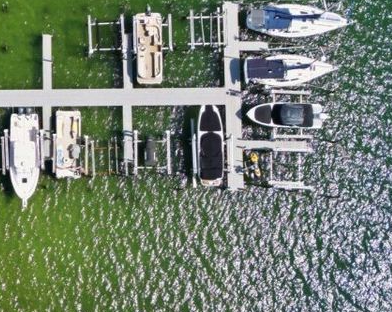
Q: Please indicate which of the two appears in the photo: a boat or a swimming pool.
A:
boat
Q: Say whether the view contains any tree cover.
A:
No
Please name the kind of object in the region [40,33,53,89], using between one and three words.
pier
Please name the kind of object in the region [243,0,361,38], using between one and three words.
boat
